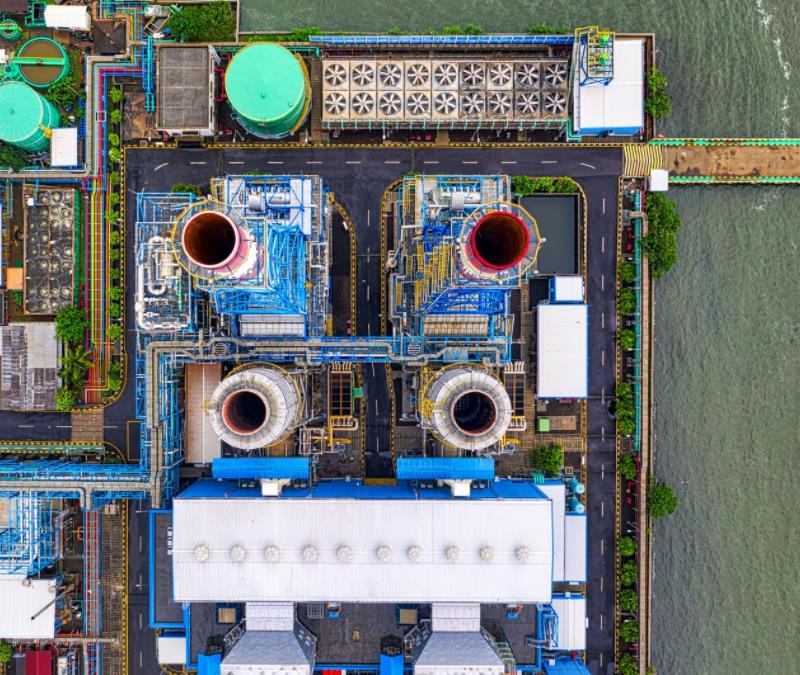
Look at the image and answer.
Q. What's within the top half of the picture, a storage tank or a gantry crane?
storage tank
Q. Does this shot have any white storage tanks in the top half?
No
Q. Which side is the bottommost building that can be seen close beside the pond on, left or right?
right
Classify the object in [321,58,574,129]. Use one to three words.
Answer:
cooling tower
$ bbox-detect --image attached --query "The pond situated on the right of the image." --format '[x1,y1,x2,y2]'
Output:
[516,192,580,276]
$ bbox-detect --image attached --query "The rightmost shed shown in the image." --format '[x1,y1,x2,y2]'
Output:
[645,170,668,193]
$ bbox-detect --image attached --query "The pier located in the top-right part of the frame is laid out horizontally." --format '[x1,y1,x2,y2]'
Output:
[648,138,800,184]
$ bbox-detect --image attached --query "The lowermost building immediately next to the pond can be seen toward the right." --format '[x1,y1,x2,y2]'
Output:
[531,305,589,398]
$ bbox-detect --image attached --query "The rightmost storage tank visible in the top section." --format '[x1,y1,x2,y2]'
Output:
[225,41,316,145]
